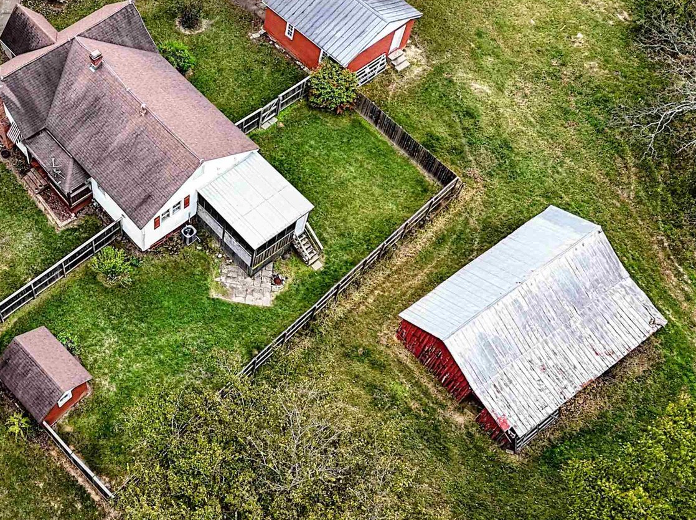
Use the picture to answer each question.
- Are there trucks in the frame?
No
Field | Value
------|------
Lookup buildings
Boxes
[0,0,323,277]
[0,328,91,423]
[263,0,420,81]
[398,207,669,455]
